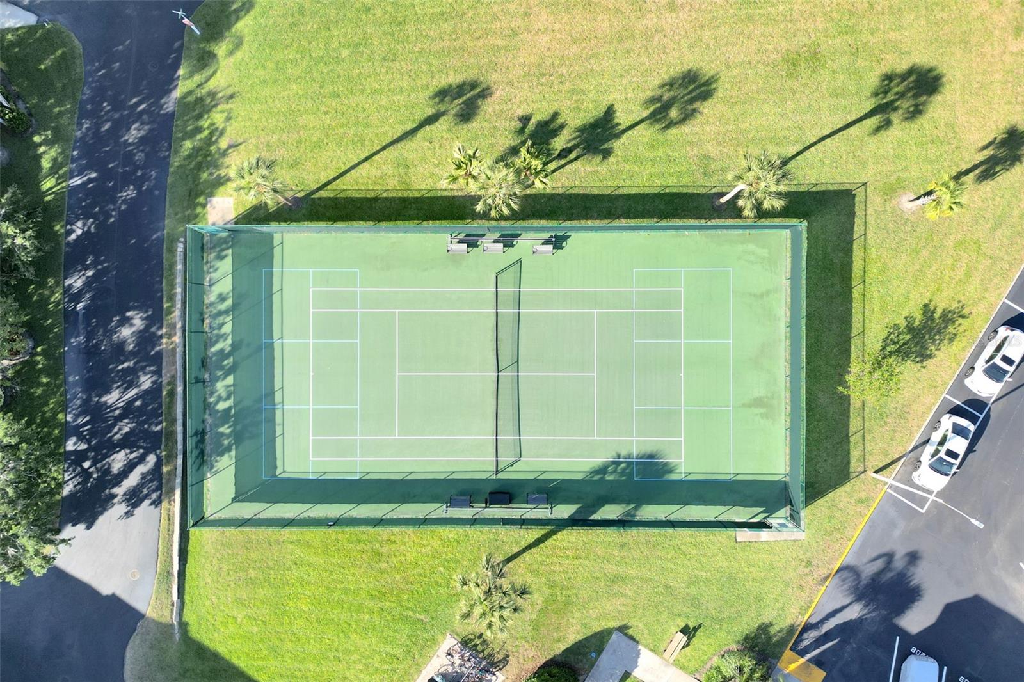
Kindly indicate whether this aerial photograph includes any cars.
Yes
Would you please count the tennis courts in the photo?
1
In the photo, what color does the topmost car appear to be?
white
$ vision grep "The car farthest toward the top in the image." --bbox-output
[966,322,1024,397]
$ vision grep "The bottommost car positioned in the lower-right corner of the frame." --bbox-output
[904,655,938,682]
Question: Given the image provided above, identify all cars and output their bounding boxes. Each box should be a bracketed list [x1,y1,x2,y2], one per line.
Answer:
[916,413,975,490]
[904,655,938,682]
[966,322,1024,397]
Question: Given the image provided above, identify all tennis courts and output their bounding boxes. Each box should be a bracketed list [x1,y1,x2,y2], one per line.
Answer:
[206,232,791,517]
